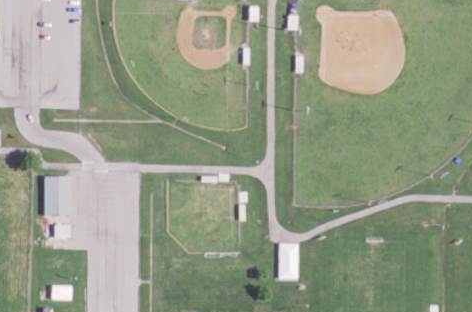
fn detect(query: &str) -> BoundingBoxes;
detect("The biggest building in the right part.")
[276,242,299,282]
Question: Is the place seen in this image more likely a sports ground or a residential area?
sports ground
